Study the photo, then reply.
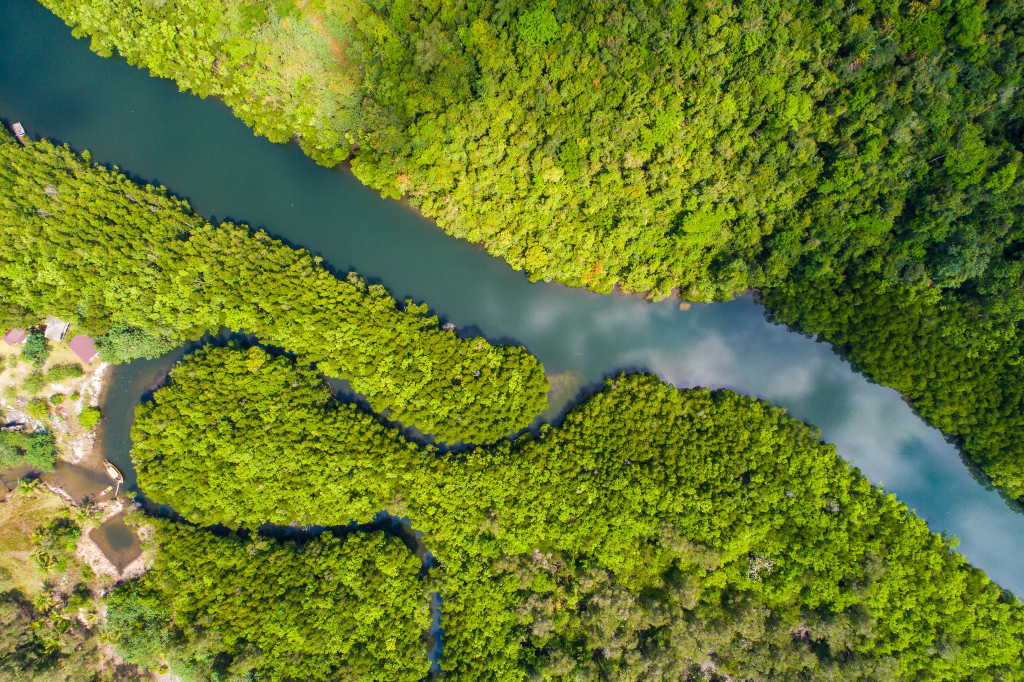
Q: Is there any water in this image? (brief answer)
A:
Yes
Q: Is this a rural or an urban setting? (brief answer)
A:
rural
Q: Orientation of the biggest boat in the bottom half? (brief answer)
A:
on a diagonal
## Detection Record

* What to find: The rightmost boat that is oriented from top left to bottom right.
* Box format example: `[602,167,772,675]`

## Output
[103,458,123,485]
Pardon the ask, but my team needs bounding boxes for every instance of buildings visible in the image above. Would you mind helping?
[43,317,70,343]
[4,325,32,346]
[68,339,96,366]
